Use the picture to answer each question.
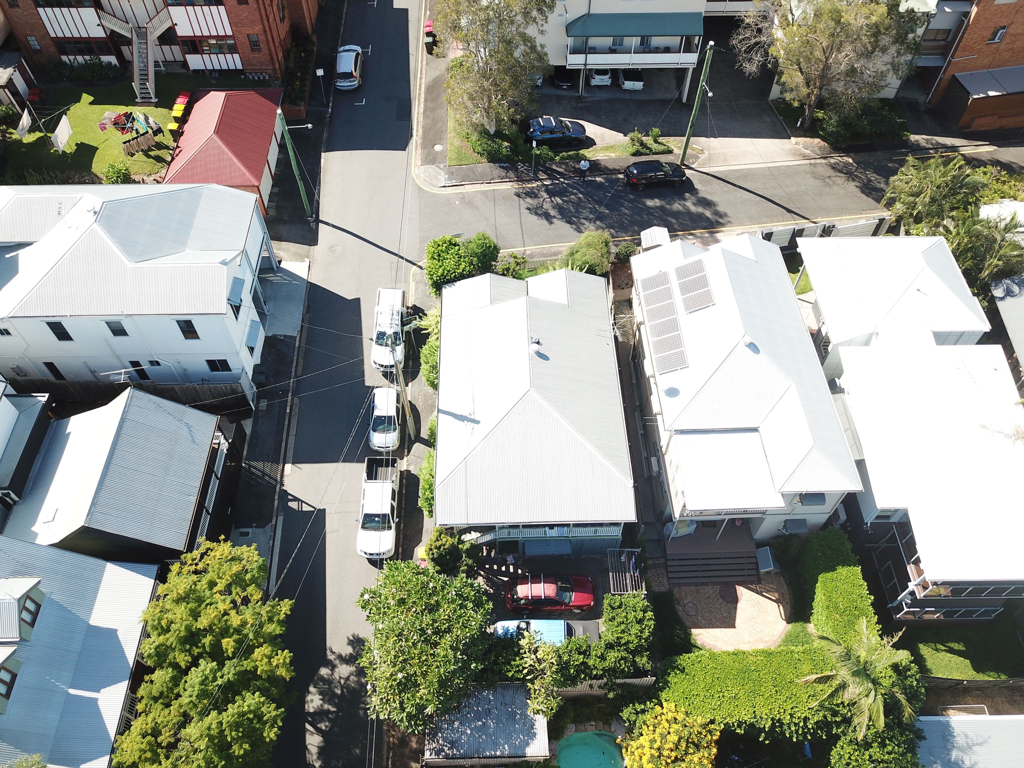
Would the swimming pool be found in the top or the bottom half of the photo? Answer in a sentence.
It is in the bottom half that the swimming pool appears.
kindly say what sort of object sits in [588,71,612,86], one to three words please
car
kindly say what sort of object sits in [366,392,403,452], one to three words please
car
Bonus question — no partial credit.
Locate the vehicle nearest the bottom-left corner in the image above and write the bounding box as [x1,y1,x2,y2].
[352,461,399,559]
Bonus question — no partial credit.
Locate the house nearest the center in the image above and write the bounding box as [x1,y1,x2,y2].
[434,268,638,556]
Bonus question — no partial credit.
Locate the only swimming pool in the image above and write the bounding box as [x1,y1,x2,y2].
[557,729,625,768]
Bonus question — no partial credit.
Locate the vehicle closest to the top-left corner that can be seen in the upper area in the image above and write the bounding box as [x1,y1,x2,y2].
[334,50,363,91]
